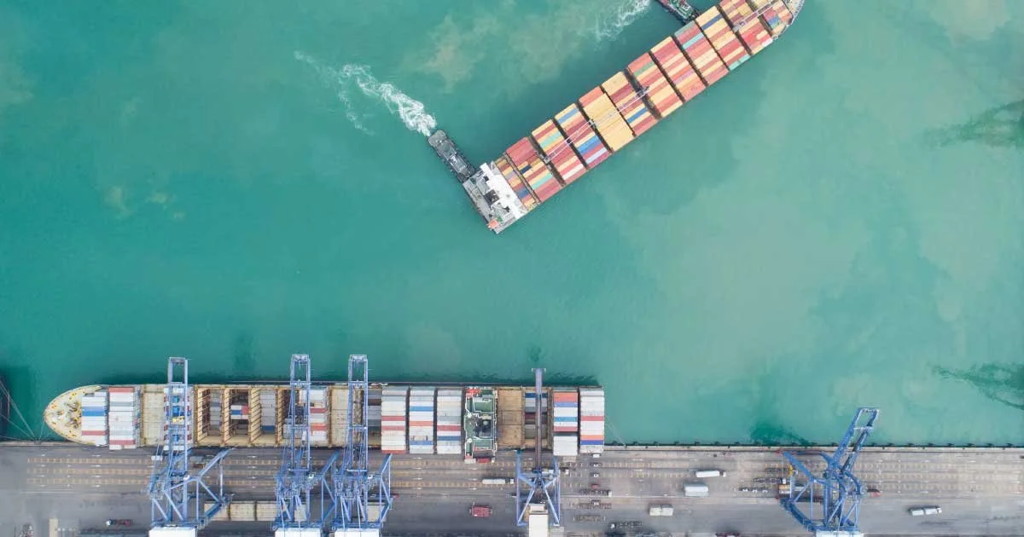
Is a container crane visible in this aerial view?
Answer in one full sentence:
Yes, a container crane can be made out from above.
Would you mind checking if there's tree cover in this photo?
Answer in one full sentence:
No, no tree cover is visible.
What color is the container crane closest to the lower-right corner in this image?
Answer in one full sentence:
The color of the container crane closest to the lower-right corner is blue.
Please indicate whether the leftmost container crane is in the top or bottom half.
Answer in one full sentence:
The bottom half of the photo is where the leftmost container crane is.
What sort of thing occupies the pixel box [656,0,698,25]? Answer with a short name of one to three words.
boat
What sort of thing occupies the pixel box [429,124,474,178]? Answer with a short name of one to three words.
boat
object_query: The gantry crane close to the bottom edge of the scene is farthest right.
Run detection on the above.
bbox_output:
[777,409,882,537]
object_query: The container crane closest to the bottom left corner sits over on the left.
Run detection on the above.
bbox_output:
[139,355,239,537]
